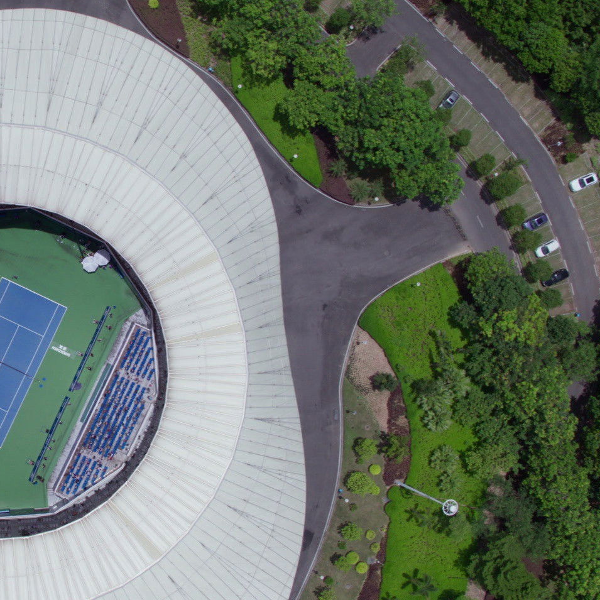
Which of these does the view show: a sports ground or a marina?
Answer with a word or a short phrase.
sports ground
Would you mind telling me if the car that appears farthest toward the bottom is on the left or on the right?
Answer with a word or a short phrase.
right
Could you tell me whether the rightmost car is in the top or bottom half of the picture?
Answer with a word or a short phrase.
top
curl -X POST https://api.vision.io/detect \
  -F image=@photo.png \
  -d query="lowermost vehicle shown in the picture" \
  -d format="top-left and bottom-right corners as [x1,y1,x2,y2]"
[541,268,571,288]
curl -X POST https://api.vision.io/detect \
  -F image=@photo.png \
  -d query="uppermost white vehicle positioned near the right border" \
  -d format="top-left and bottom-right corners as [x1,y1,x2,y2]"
[568,171,599,192]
